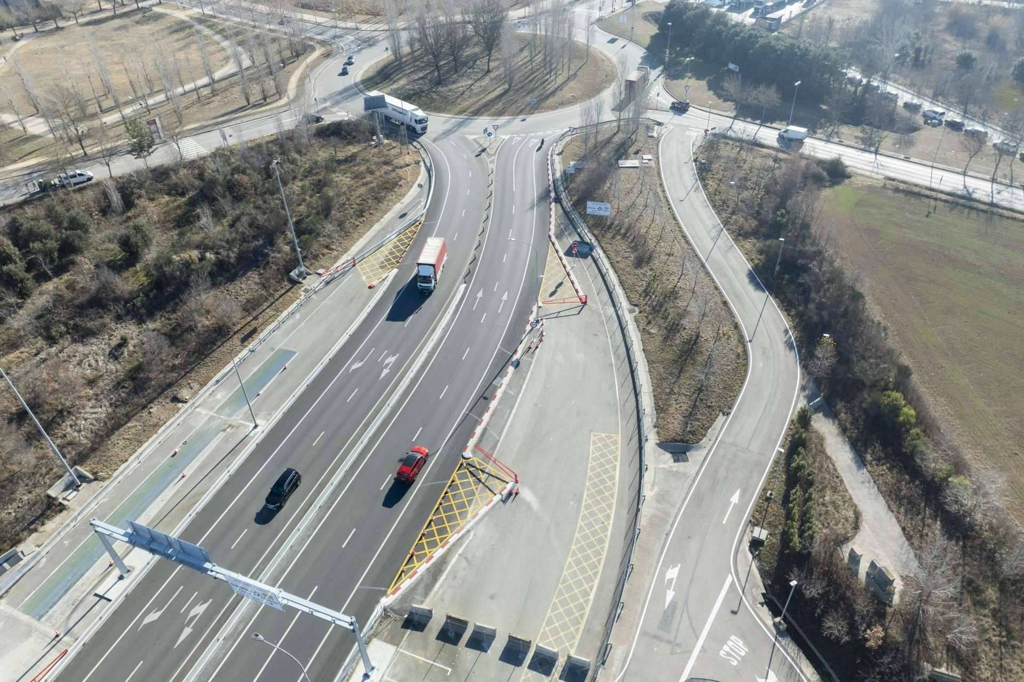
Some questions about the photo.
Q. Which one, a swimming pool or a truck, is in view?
truck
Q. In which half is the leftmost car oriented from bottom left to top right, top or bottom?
bottom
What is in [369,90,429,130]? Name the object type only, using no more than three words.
truck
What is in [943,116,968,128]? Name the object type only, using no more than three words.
vehicle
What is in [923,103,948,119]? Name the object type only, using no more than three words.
vehicle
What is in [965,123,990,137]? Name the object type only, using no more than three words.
car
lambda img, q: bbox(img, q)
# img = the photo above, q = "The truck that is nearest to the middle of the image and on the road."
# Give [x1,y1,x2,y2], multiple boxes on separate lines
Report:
[414,236,449,293]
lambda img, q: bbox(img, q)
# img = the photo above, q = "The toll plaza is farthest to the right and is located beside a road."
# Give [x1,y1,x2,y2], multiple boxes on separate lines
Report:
[340,148,641,682]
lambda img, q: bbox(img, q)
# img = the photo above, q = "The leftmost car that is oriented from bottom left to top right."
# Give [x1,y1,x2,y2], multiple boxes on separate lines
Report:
[263,468,301,509]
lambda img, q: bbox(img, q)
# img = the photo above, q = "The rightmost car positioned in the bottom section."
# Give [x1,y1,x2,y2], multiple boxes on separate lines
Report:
[393,449,425,484]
